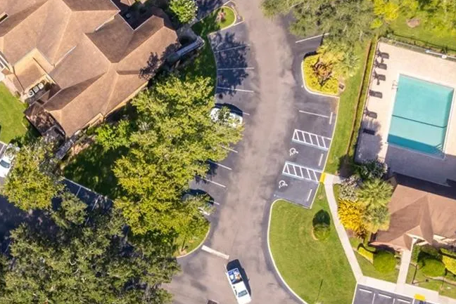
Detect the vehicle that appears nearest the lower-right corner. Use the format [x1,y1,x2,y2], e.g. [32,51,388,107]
[224,261,251,303]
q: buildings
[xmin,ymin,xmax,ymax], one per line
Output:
[0,0,186,147]
[370,170,456,254]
